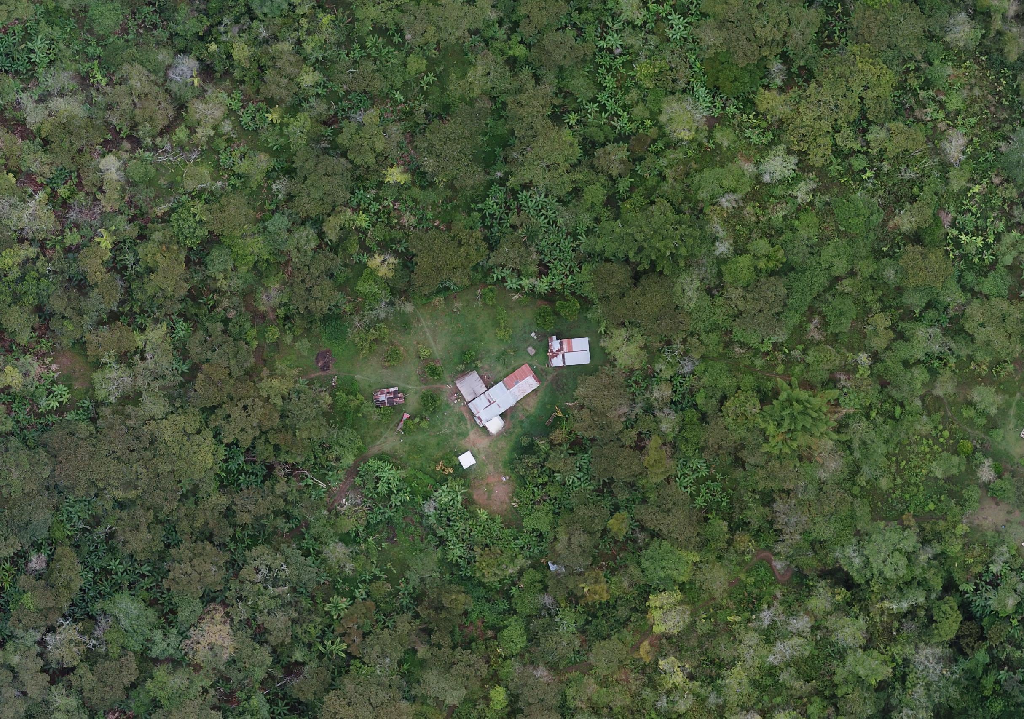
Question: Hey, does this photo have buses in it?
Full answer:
No, the photo shows no bus.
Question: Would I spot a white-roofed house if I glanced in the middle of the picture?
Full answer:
Yes, a white-roofed house appears in the middle of the picture.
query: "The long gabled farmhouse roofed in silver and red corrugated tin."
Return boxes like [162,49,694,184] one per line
[468,363,541,427]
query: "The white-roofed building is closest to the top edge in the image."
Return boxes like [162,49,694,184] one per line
[547,336,590,367]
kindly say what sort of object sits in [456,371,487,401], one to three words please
barn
